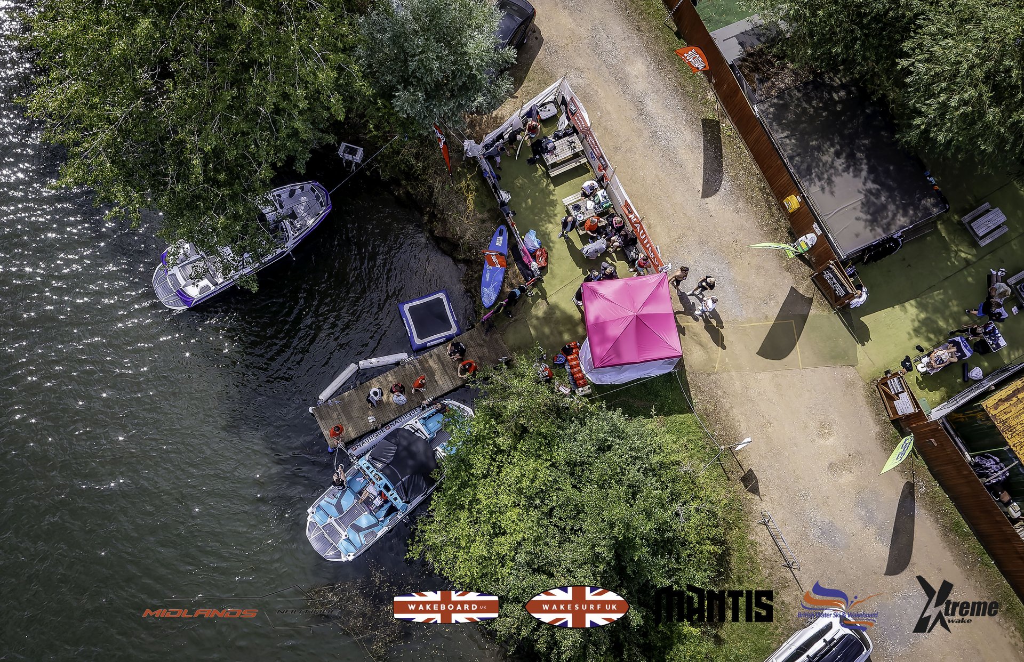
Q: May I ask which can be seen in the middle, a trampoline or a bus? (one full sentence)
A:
There is a trampoline in the middle.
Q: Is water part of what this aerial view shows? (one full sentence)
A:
Yes, water shows up in the scene.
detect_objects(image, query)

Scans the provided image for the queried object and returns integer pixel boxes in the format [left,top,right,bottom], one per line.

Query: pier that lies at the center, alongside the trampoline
[313,324,508,449]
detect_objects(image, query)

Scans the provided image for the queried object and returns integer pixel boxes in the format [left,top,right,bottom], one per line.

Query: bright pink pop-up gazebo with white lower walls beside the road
[576,273,684,386]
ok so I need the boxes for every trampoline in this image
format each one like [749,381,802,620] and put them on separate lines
[398,290,462,353]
